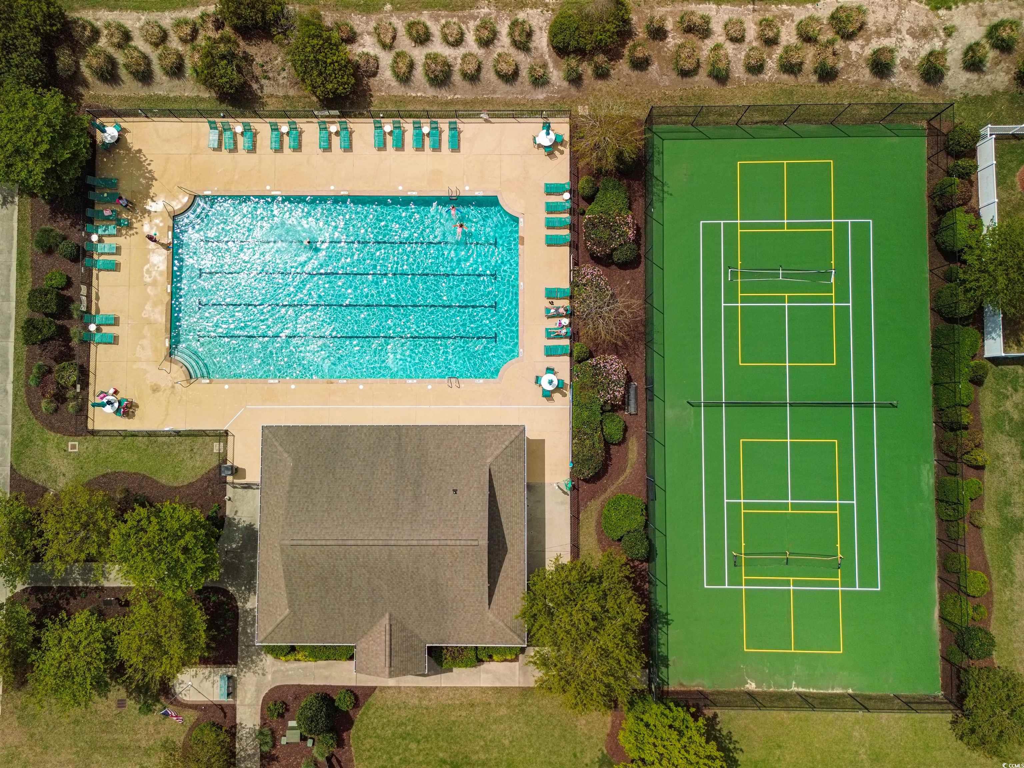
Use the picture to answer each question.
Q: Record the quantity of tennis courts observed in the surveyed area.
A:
1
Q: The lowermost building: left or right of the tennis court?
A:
to the left of it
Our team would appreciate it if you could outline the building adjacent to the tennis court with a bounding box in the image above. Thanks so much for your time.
[254,422,528,680]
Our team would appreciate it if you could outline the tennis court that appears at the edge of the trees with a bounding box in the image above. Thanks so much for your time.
[645,123,941,694]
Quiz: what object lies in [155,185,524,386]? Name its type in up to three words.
swimming pool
